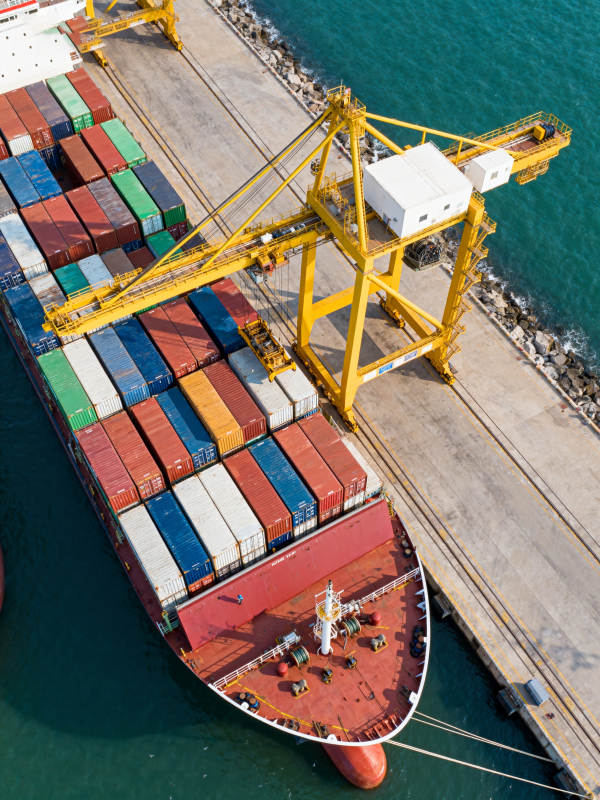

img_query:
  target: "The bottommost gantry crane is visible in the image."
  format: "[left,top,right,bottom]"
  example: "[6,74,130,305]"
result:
[41,58,582,430]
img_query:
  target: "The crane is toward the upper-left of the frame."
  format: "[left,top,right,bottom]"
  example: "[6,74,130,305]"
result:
[73,0,184,72]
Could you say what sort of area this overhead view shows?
port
